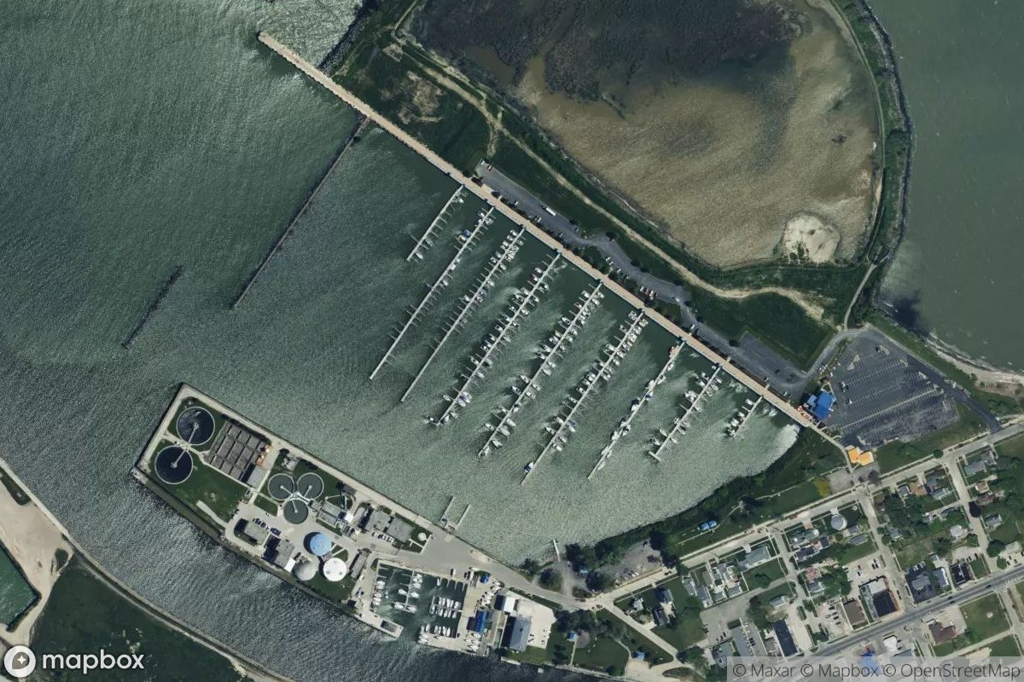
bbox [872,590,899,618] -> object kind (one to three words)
building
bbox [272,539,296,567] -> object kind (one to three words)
building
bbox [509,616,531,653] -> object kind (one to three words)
shed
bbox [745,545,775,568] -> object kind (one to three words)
house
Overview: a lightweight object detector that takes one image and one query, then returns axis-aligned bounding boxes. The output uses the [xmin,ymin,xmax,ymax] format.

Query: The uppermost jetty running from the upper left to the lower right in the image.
[259,32,815,430]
